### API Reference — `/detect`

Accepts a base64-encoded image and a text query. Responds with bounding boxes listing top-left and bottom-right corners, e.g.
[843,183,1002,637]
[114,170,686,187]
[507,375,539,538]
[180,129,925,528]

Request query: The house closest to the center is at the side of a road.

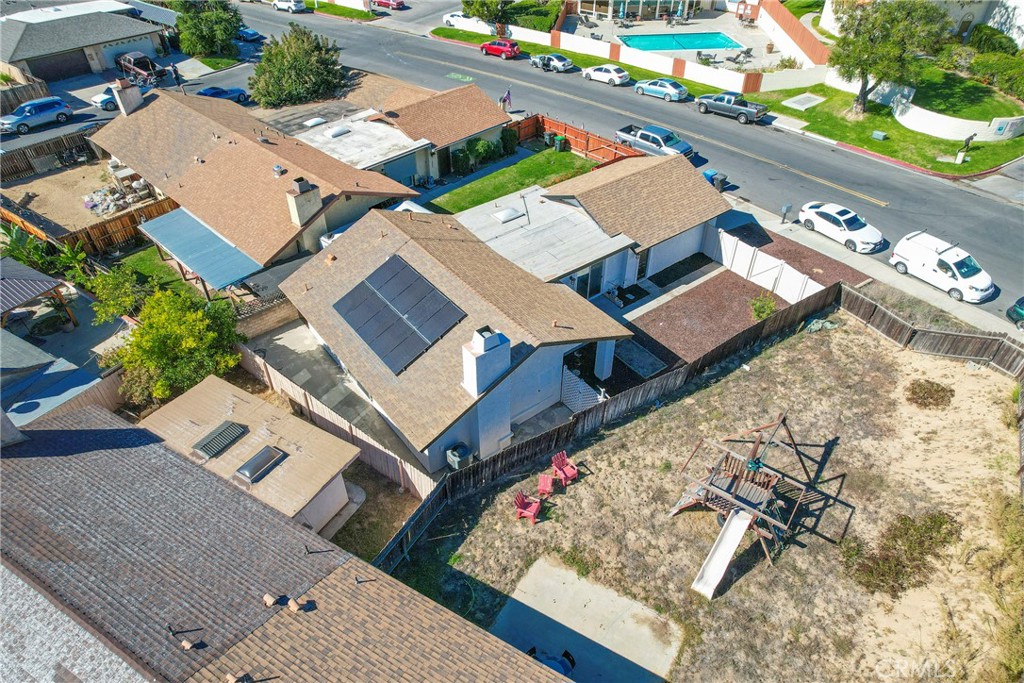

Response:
[278,155,733,474]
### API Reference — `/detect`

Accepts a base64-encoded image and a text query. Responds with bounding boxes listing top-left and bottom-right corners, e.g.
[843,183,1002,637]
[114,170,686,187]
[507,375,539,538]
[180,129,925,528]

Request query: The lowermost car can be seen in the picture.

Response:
[996,294,1024,334]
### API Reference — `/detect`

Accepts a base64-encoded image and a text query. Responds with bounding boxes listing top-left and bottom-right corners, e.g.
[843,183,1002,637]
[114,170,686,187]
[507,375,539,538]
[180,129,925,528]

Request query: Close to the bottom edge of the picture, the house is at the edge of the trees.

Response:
[0,411,581,683]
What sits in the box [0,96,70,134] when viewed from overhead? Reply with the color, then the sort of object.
blue car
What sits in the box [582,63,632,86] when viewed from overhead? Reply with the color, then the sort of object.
white car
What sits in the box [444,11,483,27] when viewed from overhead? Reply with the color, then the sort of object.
white car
